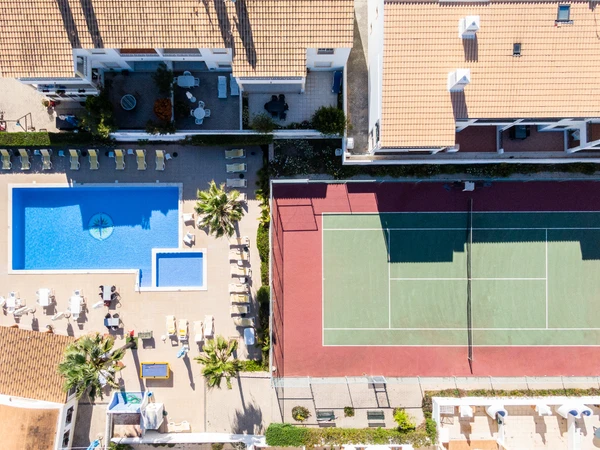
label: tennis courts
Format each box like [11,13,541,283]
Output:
[274,183,600,377]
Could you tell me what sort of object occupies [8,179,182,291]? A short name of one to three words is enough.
swimming pool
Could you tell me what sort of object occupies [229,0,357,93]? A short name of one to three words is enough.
house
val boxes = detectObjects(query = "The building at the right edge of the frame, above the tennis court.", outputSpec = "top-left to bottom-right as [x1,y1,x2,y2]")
[368,0,600,156]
